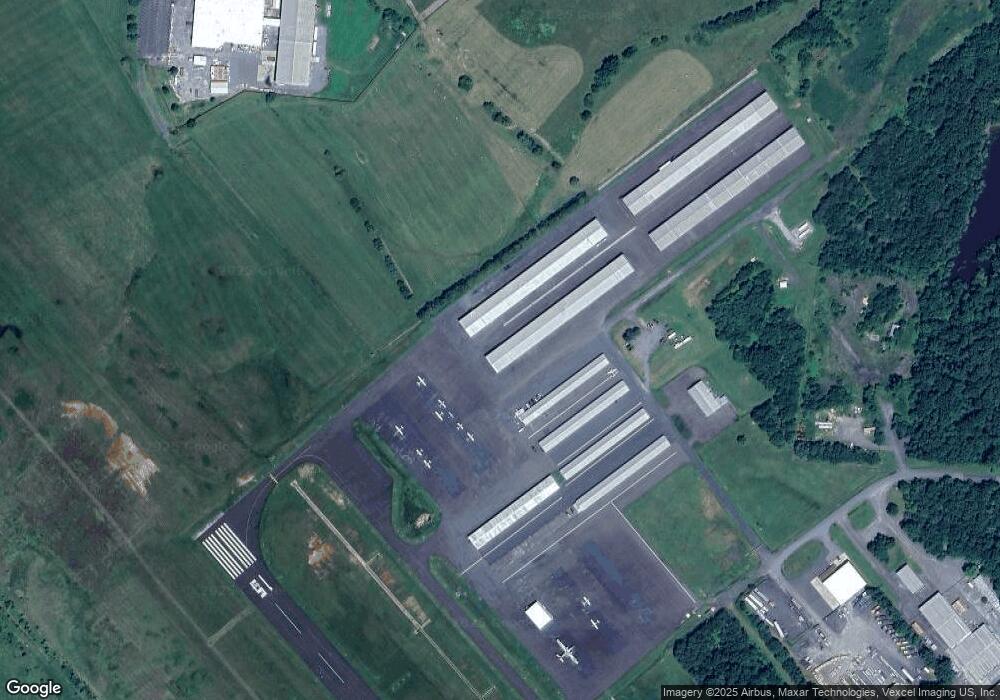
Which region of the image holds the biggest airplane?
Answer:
bottom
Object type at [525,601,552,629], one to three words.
hangar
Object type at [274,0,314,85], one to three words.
building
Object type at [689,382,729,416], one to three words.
hangar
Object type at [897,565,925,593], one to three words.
shed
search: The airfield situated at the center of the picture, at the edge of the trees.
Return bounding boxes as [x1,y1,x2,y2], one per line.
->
[192,80,811,700]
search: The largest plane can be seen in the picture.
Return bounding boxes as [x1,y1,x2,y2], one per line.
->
[557,639,579,664]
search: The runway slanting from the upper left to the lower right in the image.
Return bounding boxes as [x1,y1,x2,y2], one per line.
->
[192,513,381,700]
